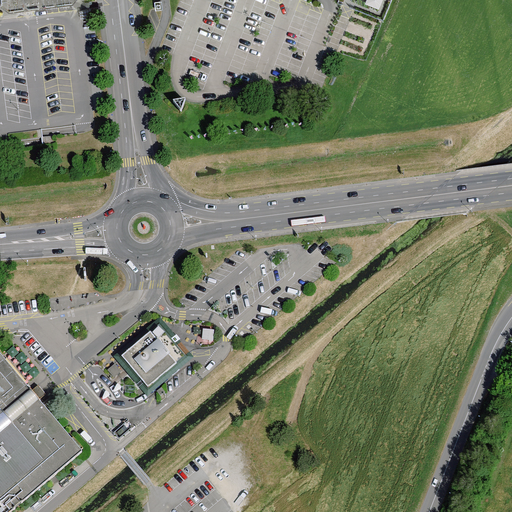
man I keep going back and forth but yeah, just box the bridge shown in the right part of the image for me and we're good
[397,162,512,222]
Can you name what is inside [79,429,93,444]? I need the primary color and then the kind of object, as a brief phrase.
white vehicle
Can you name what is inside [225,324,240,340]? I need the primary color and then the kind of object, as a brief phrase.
white vehicle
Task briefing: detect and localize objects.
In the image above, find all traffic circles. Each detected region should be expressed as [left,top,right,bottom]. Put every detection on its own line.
[102,182,184,268]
